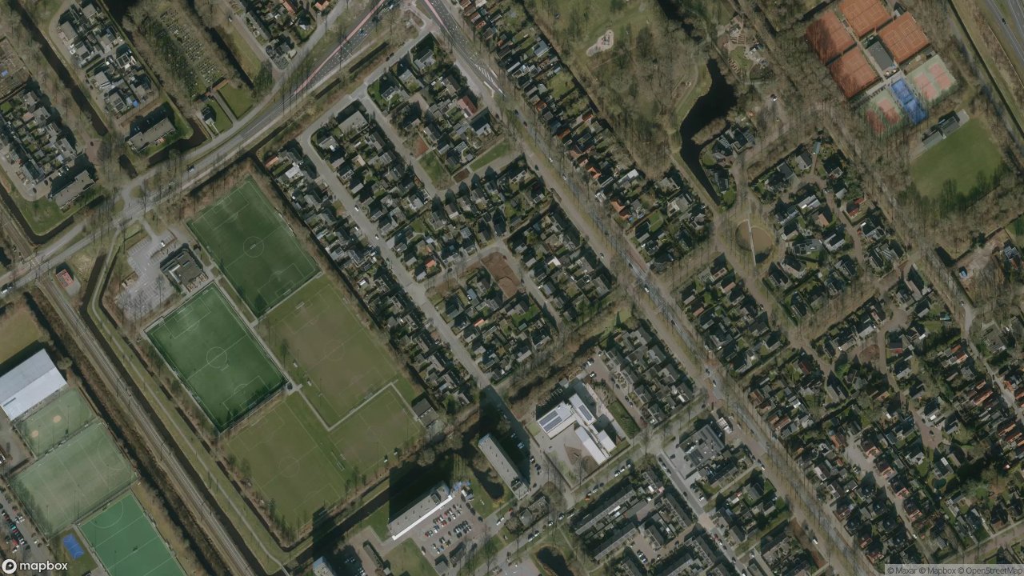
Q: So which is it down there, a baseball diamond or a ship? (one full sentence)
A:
There is a baseball diamond in the scene.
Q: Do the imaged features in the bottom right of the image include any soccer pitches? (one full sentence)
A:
No, no soccer pitch can be made out in the bottom right of the image.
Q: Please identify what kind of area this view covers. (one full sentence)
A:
This image shows a residential area.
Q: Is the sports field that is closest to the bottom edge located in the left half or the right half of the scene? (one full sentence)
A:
It is on the left.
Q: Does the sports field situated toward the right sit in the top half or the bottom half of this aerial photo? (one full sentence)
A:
It is in the top half that the sports field situated toward the right appears.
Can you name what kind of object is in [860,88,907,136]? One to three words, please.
tennis court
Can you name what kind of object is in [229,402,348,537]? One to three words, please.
soccer field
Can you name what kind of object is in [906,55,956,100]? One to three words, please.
tennis court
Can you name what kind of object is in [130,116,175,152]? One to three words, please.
building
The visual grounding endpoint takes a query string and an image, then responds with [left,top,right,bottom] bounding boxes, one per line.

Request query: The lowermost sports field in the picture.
[80,493,188,576]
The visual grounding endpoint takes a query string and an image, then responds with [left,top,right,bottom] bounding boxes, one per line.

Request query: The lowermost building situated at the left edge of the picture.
[0,348,68,421]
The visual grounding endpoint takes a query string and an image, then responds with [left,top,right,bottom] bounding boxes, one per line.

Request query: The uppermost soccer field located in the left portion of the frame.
[189,177,320,318]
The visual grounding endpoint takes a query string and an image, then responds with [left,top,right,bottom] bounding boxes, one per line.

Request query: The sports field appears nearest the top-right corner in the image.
[911,124,1002,201]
